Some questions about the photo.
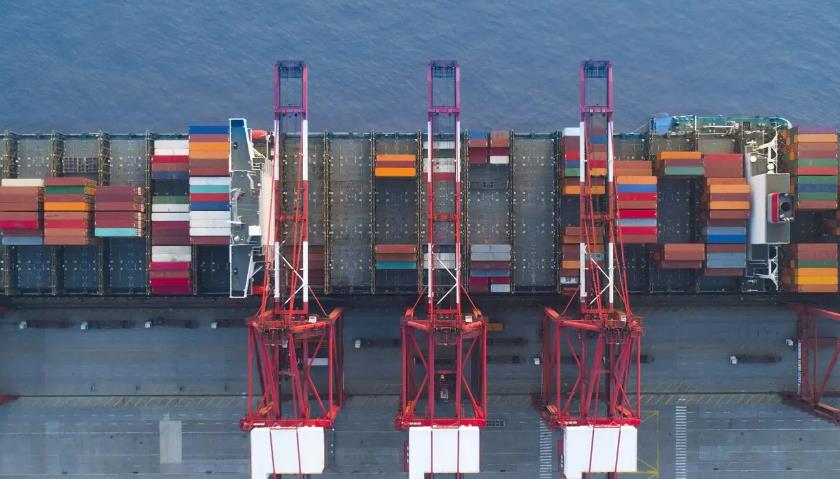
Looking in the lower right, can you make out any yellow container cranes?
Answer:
No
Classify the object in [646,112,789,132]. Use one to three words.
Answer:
ship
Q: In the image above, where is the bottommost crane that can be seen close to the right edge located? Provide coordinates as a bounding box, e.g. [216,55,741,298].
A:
[781,305,840,422]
